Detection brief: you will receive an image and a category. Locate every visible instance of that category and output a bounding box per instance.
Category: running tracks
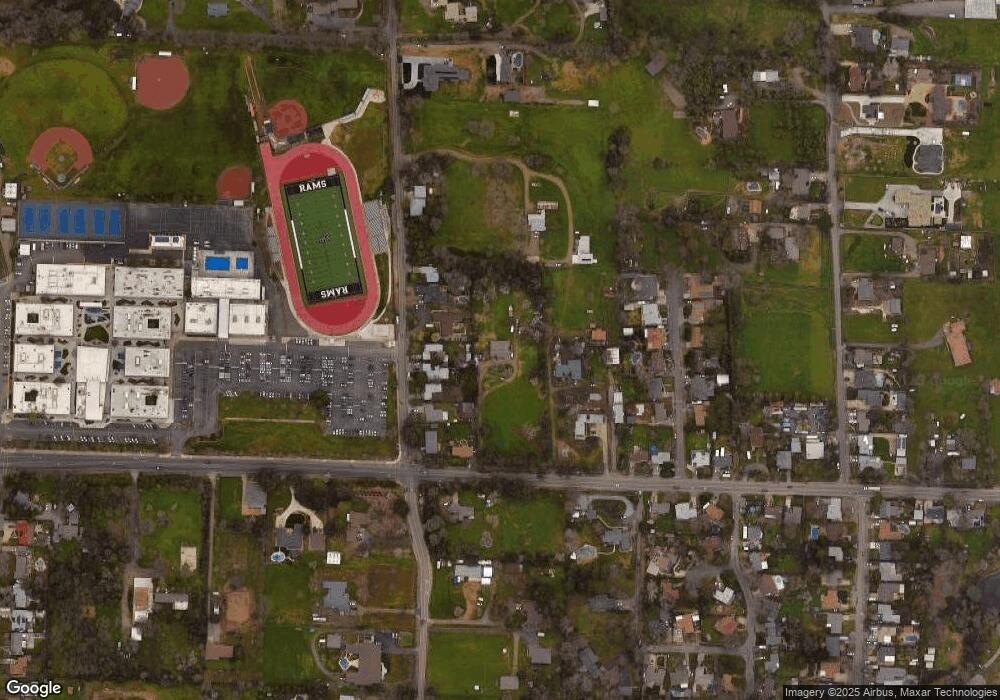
[262,143,380,336]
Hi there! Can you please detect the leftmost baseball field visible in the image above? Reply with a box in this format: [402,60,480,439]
[28,126,95,190]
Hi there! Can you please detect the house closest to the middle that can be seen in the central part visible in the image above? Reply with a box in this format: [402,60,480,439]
[490,341,511,358]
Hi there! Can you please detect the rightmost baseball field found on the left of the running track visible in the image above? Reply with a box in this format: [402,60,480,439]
[216,164,253,205]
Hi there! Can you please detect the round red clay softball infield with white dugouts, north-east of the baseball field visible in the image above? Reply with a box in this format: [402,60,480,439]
[135,55,189,110]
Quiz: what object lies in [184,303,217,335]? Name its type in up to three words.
building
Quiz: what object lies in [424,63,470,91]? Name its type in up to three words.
house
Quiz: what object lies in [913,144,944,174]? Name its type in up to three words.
sports court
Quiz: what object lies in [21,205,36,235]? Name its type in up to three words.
tennis court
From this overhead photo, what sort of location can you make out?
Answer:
residential area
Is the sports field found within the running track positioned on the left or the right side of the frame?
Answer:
left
